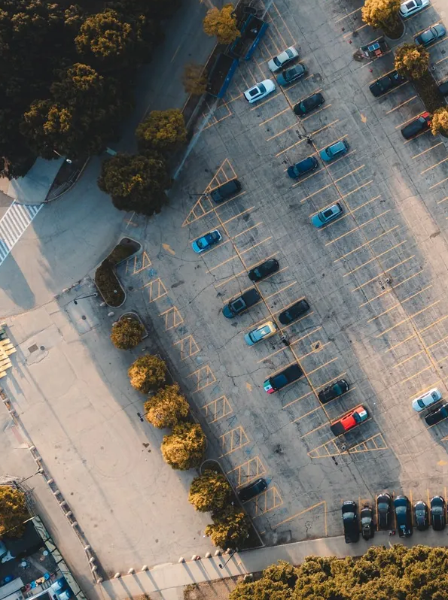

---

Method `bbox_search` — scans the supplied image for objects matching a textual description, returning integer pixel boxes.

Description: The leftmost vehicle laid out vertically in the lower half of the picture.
[341,502,356,542]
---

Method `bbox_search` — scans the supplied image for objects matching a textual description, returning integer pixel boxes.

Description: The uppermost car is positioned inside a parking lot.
[400,0,429,16]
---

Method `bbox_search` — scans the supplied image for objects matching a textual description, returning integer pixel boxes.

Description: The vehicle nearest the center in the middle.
[223,291,260,318]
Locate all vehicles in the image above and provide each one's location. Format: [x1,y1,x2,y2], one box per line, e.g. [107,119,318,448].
[246,321,276,345]
[287,155,317,178]
[317,379,348,402]
[429,496,444,529]
[268,47,299,69]
[265,364,301,392]
[414,500,428,529]
[424,402,448,426]
[278,299,312,324]
[223,291,260,318]
[209,178,242,202]
[320,138,350,161]
[243,80,275,102]
[276,62,307,86]
[236,478,268,502]
[312,204,342,226]
[360,508,374,539]
[412,387,442,411]
[295,93,323,115]
[192,229,222,253]
[248,259,280,281]
[400,113,434,139]
[369,68,406,96]
[376,494,392,527]
[394,498,409,536]
[413,22,446,46]
[400,0,429,16]
[341,502,356,542]
[436,80,448,96]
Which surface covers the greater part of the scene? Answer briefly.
paved ground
